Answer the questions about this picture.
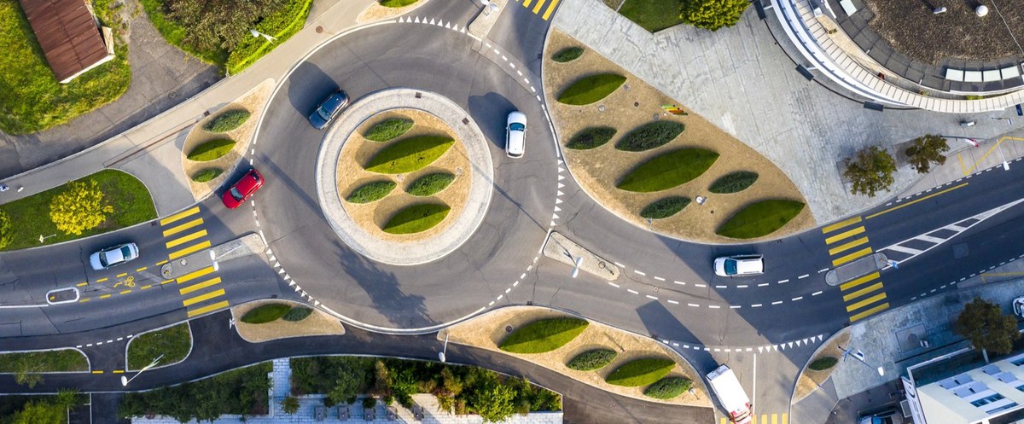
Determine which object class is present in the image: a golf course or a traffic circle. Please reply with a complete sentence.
There is a traffic circle in the scene.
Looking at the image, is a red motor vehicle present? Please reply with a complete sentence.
Yes, you can see a red motor vehicle in this photo.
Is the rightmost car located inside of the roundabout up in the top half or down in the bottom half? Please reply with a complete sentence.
The rightmost car located inside of the roundabout sits in the top half of the picture.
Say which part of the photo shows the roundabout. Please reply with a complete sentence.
The roundabout sits in the center section of the image.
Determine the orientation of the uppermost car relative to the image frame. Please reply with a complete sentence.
The uppermost car is oriented on a diagonal.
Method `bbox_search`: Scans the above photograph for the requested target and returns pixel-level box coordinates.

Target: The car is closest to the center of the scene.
[505,112,529,158]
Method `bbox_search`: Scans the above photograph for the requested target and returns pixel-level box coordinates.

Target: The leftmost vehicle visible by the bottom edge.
[701,357,753,422]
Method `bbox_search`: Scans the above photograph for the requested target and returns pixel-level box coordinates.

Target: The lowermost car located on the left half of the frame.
[90,240,143,271]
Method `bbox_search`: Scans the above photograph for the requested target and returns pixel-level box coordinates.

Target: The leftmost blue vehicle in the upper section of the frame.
[309,87,353,130]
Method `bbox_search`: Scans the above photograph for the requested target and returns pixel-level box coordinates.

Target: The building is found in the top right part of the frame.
[752,0,1024,121]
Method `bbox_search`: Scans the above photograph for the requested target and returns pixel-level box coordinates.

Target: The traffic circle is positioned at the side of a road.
[250,18,564,336]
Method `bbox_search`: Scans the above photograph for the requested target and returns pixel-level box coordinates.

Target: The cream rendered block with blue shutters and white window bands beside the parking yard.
[923,355,1024,424]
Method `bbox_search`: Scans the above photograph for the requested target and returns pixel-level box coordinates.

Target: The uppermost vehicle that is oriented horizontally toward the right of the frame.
[711,253,766,278]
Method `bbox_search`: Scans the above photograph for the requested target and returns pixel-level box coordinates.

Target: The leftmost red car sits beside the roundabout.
[221,167,267,209]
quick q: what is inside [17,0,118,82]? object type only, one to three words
shed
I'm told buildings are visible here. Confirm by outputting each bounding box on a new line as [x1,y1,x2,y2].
[752,0,1024,121]
[17,0,118,82]
[923,355,1024,424]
